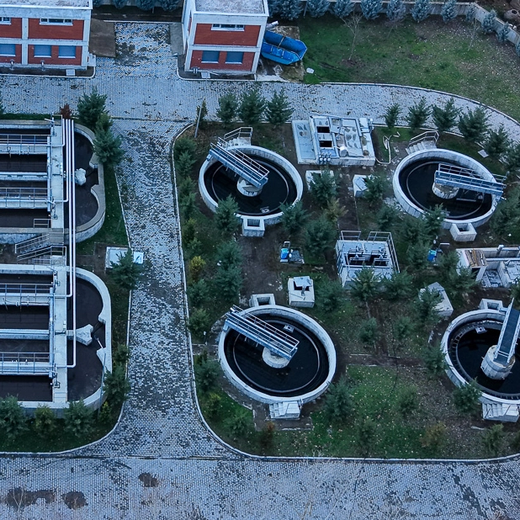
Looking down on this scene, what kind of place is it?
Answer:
industrial area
